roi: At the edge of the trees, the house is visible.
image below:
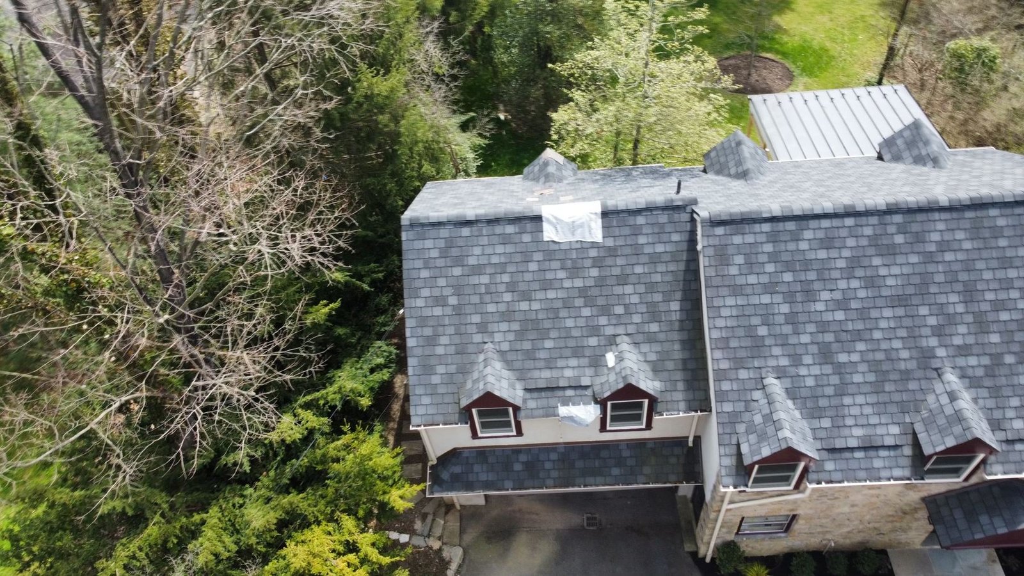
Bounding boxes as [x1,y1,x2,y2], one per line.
[398,117,1024,560]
